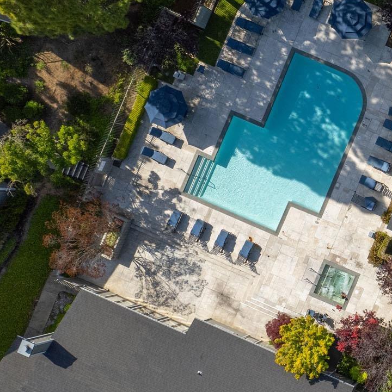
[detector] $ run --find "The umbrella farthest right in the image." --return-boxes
[331,0,373,40]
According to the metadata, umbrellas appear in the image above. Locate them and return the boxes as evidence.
[246,0,287,19]
[146,86,188,127]
[331,0,373,40]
